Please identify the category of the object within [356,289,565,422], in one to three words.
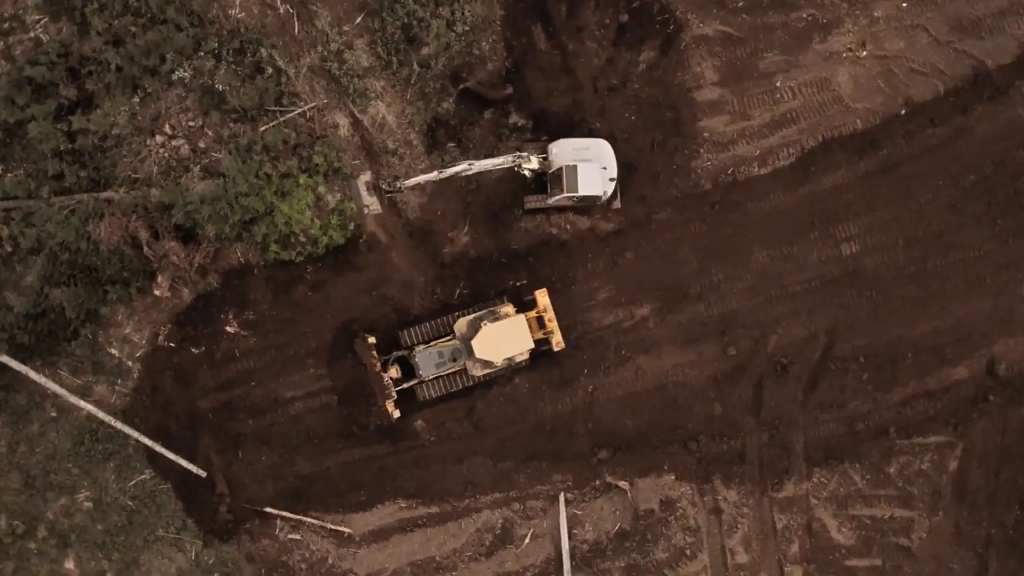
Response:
work vehicle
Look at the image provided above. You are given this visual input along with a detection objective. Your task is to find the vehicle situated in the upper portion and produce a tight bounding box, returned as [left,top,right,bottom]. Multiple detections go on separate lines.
[358,138,620,215]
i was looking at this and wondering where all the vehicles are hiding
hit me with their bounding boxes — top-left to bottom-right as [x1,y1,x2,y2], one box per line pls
[358,138,620,215]
[356,289,565,422]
